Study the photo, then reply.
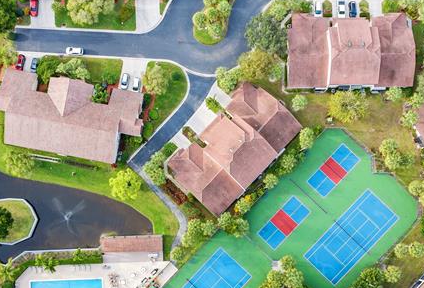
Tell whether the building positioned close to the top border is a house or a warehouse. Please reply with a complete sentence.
Looking closely, the building positioned close to the top border is a house.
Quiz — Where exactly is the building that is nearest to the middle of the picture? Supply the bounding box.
[169,80,302,218]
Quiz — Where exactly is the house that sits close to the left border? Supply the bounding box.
[0,69,144,165]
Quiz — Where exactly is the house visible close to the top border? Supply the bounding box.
[283,12,414,96]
